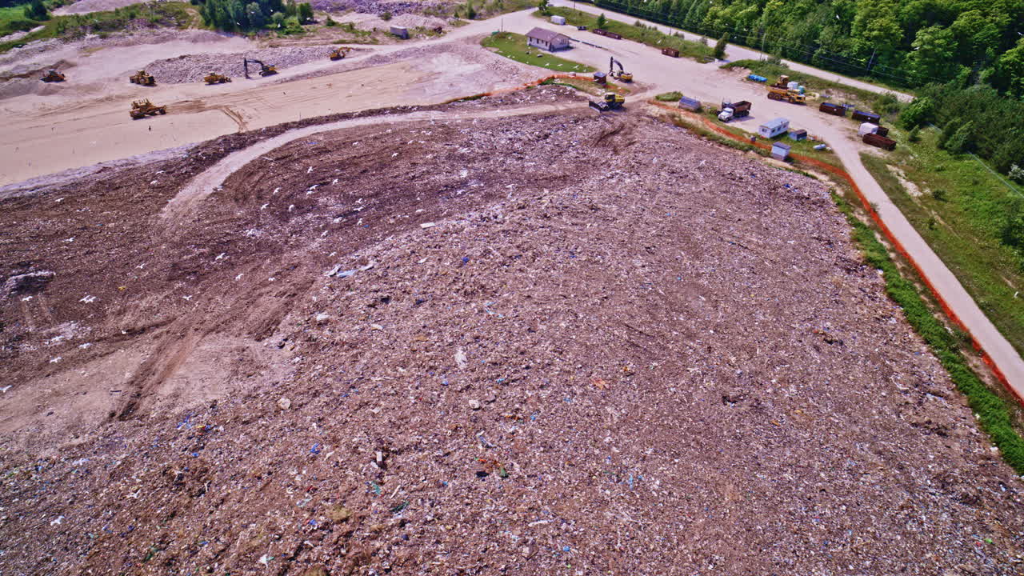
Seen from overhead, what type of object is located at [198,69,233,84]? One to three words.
work vehicle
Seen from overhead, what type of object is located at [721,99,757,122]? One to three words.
truck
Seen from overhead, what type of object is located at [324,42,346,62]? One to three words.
work vehicle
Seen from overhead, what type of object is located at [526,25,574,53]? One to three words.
house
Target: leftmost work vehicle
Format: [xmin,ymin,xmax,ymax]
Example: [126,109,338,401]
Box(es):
[36,67,64,81]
